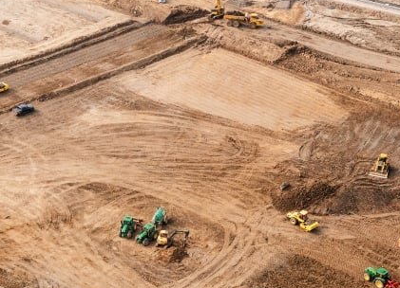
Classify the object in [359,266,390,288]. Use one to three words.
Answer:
work vehicle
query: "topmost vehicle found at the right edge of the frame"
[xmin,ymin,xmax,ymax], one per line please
[368,154,390,181]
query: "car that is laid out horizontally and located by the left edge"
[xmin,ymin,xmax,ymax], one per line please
[11,104,35,116]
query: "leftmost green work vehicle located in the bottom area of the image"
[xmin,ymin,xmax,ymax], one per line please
[119,214,138,239]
